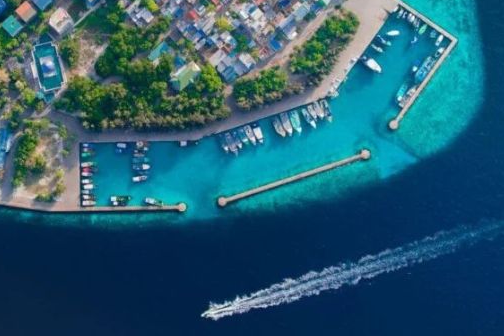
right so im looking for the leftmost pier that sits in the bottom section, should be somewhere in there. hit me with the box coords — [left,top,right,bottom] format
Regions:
[79,200,189,215]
